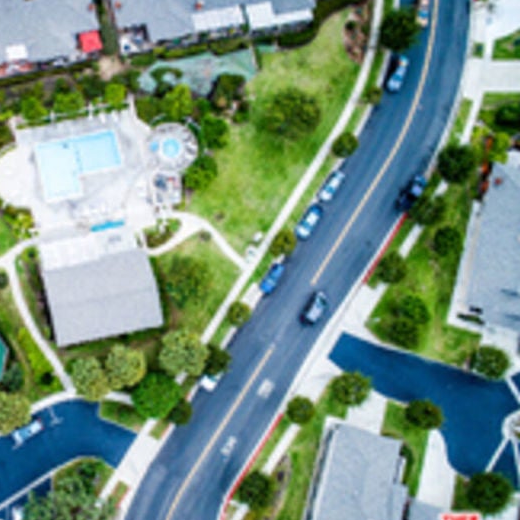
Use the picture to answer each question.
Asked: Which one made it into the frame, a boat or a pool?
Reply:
pool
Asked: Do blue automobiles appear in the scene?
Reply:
Yes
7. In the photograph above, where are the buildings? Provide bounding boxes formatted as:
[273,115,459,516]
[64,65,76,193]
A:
[39,226,164,346]
[467,150,520,334]
[311,425,408,520]
[107,0,317,41]
[0,0,103,64]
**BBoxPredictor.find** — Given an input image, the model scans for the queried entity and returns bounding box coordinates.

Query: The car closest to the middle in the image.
[260,262,285,294]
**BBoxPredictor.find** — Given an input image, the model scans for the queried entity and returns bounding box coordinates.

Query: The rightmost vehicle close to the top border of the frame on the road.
[415,0,431,24]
